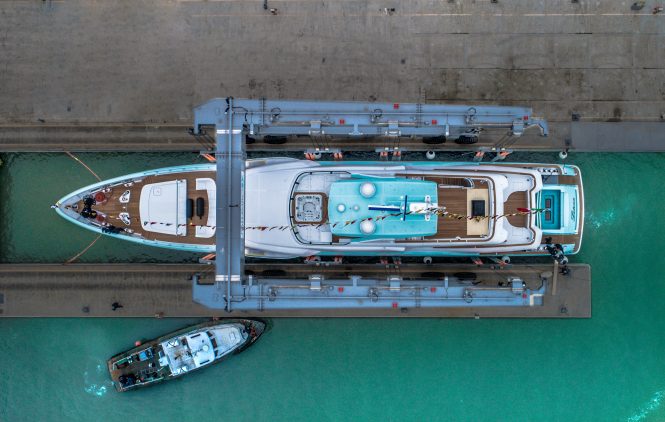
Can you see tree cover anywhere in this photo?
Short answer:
No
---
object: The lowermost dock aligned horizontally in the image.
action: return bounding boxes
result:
[0,263,590,317]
